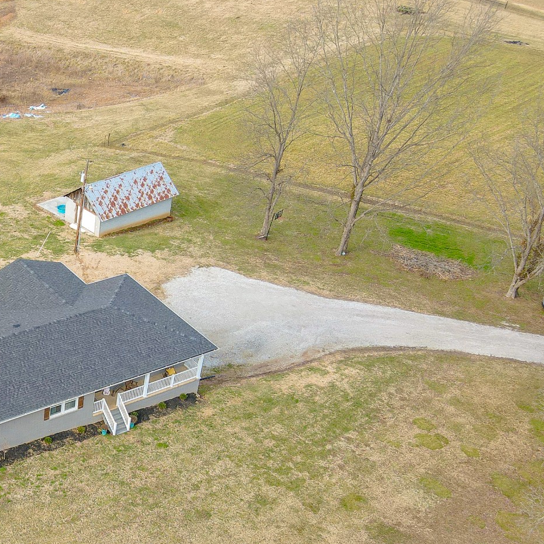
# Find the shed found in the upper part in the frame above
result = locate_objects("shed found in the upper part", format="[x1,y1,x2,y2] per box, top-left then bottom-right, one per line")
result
[65,159,178,237]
